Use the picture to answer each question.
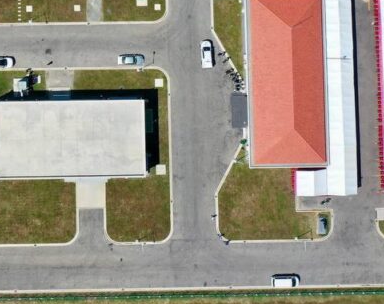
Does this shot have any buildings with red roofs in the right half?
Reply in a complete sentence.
Yes, a building with a red roof can be seen in the right half.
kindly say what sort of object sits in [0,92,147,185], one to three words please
building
